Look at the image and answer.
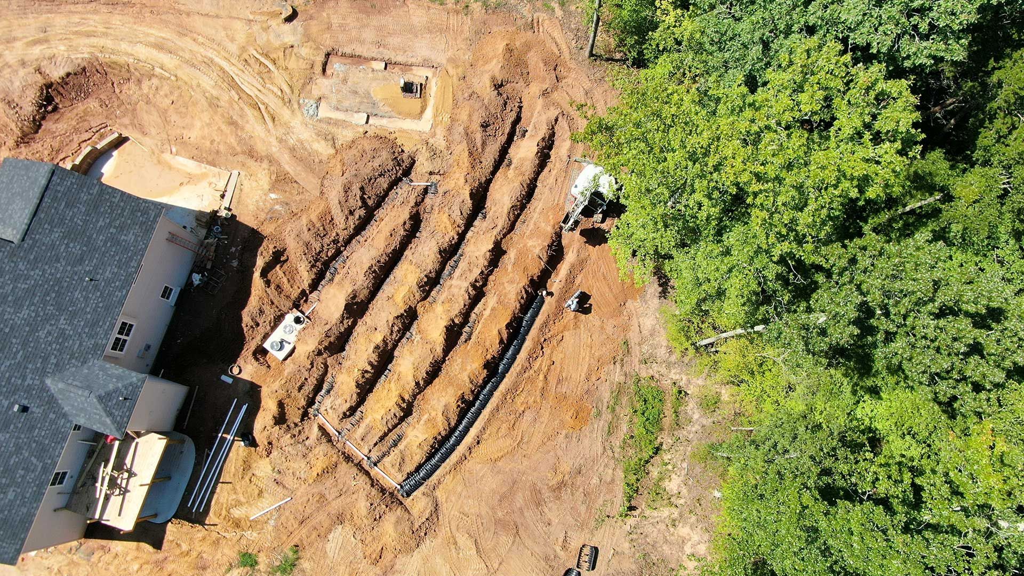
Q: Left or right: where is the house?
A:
left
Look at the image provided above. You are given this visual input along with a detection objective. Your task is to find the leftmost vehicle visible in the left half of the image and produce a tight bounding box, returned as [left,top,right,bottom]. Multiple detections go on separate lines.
[397,72,421,97]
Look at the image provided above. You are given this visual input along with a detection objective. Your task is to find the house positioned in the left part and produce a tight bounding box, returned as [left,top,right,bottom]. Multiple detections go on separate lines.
[0,149,202,565]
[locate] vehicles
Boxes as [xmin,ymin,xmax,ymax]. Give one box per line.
[397,72,421,97]
[560,155,614,238]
